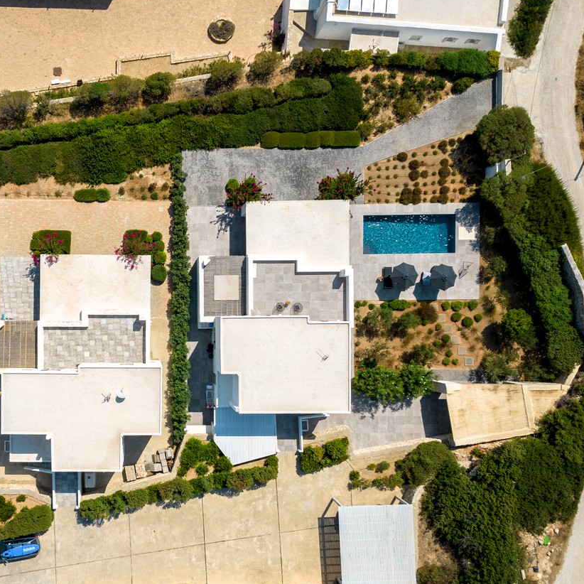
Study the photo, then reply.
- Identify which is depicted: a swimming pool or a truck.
swimming pool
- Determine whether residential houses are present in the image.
Yes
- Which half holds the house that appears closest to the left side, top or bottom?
bottom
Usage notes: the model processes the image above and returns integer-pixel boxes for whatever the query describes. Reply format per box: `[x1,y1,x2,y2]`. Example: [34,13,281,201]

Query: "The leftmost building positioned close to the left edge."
[0,254,162,509]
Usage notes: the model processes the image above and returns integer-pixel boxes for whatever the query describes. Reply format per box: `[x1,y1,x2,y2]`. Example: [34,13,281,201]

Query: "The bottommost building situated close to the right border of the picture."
[432,381,568,442]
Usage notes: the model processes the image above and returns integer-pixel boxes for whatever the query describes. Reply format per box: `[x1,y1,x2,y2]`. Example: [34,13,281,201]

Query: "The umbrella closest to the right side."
[430,264,456,291]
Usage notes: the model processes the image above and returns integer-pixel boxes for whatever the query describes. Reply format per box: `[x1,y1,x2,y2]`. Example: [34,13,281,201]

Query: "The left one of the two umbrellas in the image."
[391,263,417,291]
